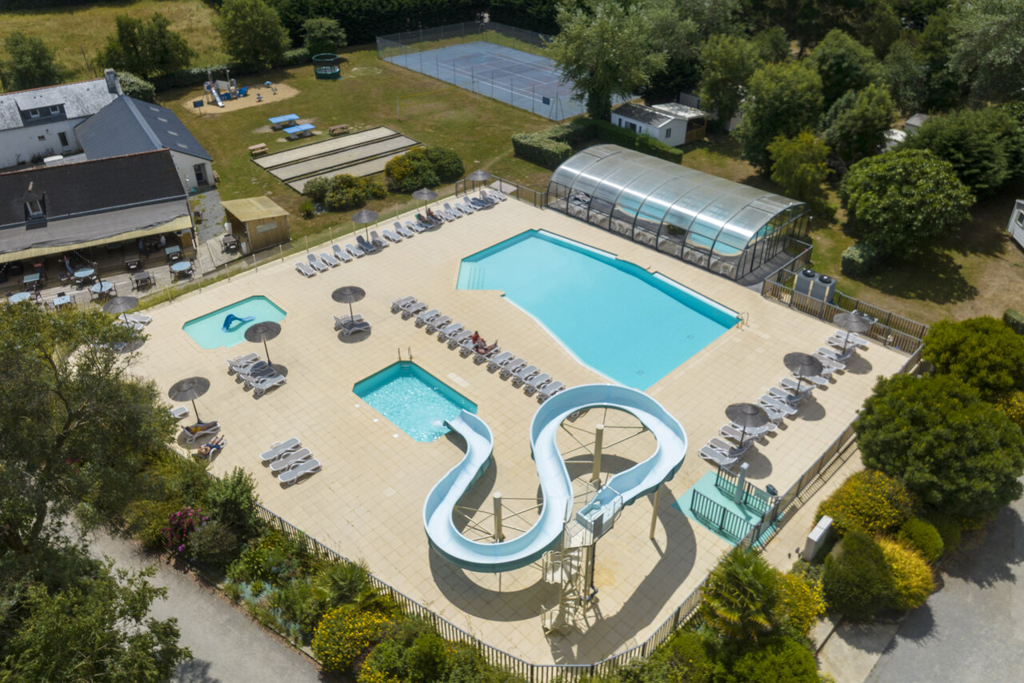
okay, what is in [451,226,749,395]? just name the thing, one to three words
swimming pool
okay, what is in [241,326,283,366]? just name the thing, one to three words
umbrella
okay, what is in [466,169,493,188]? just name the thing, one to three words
umbrella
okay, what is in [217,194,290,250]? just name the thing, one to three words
shed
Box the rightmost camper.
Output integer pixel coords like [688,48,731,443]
[989,203,1024,245]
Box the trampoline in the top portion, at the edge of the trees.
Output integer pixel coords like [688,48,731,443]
[309,49,340,78]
